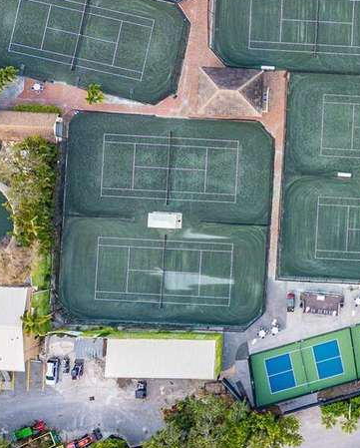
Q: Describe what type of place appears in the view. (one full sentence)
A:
It's a sports ground.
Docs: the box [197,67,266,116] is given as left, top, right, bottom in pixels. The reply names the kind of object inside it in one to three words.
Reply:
building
